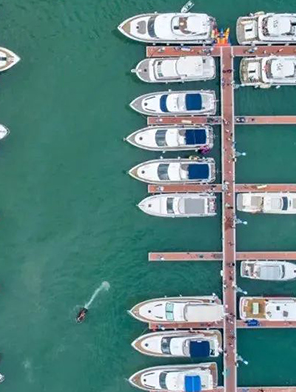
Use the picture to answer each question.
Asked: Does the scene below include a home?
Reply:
No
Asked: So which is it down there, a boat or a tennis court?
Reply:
boat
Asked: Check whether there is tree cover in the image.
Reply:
No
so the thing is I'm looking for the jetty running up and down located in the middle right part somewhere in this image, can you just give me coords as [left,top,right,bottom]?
[220,46,236,392]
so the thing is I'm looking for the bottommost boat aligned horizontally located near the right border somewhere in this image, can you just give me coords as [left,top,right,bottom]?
[236,295,296,321]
